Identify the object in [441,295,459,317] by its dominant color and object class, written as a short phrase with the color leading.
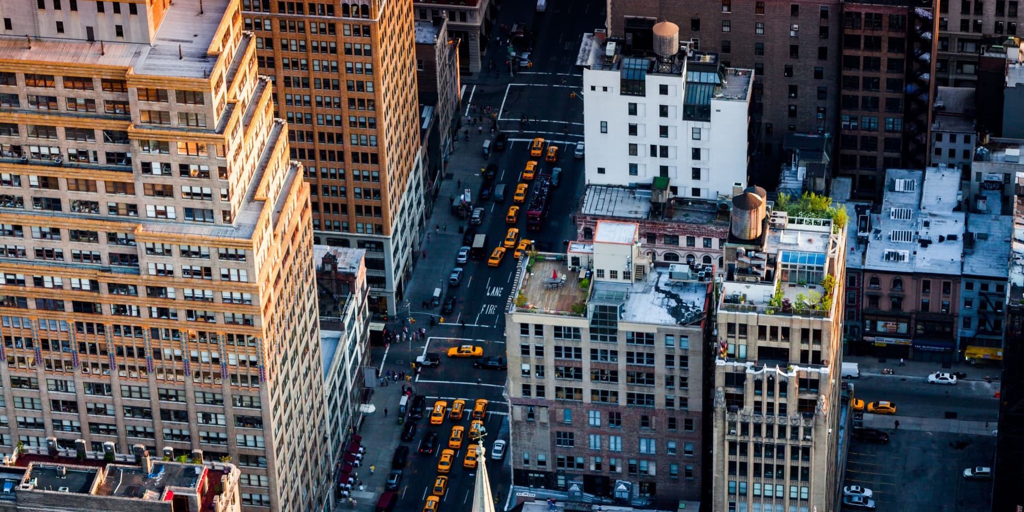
black car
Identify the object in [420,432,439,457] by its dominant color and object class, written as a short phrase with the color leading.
black car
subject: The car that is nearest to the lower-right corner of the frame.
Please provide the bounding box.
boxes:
[961,465,994,482]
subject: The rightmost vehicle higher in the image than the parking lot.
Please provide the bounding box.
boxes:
[924,372,959,387]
